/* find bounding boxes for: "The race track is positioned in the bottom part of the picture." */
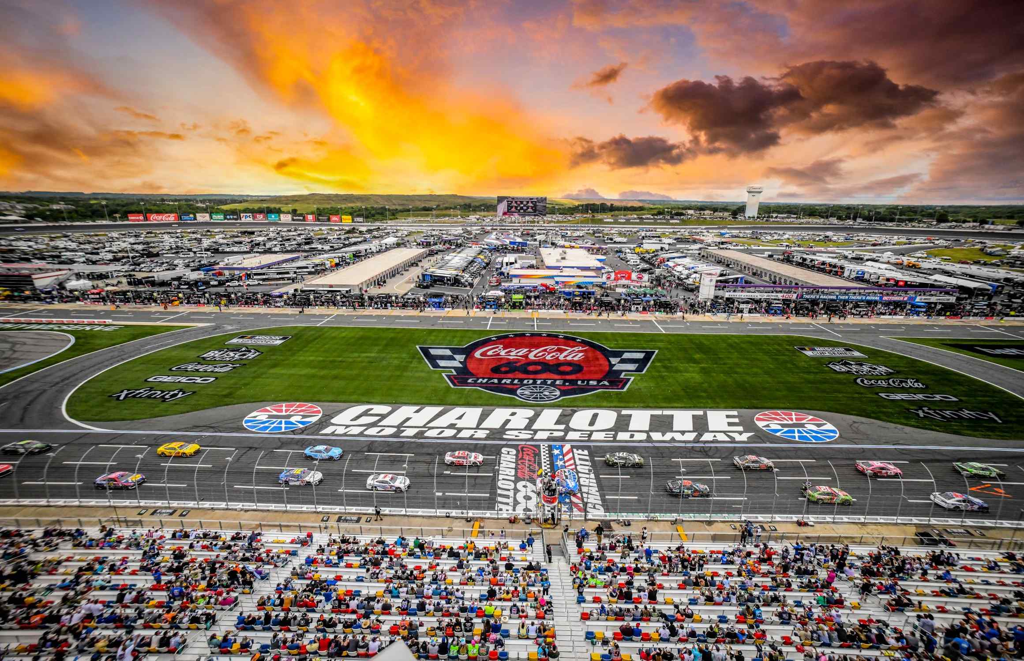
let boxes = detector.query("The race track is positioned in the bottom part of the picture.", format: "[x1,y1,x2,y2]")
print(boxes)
[0,432,1024,521]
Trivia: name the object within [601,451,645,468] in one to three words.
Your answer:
car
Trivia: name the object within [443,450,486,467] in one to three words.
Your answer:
car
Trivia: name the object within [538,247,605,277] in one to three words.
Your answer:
building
